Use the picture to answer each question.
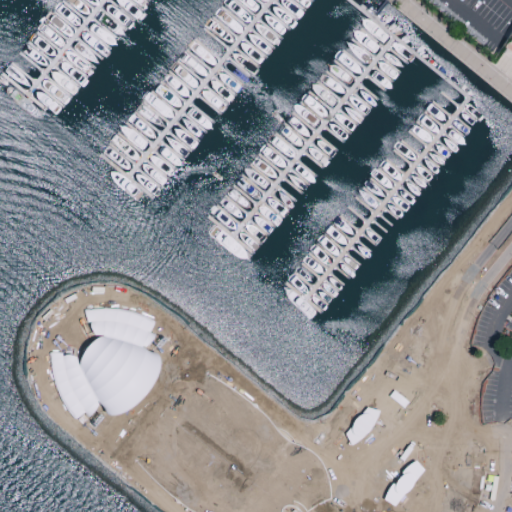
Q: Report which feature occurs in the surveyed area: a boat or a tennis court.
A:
boat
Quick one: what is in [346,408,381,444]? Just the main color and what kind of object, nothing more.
white tent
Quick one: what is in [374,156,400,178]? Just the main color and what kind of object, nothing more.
white boat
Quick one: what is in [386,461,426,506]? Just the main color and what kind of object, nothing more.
white tent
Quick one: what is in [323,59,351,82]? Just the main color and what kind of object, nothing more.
white boat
